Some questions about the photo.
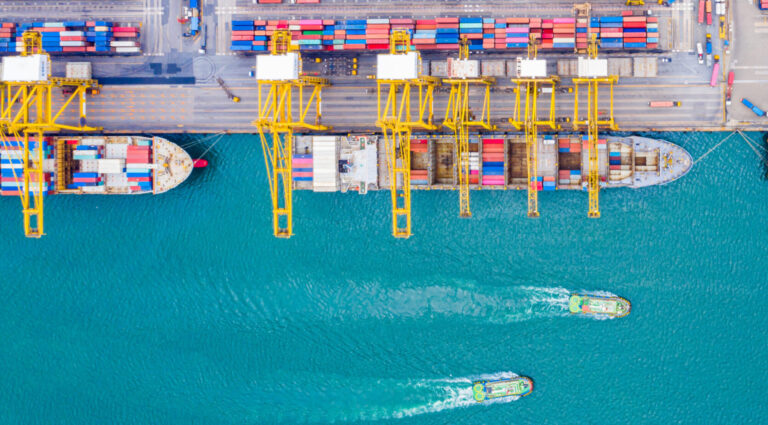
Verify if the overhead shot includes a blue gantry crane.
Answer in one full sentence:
No, no blue gantry crane can be seen from above.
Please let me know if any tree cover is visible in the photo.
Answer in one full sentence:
No, tree cover can't be seen anywhere here.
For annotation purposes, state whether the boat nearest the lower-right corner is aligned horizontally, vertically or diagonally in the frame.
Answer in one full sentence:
I'd say the boat nearest the lower-right corner is aligned horizontally in the picture.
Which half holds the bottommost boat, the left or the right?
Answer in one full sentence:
You can find the bottommost boat on the right side of the picture.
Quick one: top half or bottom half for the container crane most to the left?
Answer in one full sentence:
You can find the container crane most to the left in the top half.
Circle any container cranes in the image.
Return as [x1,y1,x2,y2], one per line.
[442,36,504,218]
[573,0,592,59]
[254,29,336,238]
[509,36,565,219]
[374,29,446,238]
[0,29,104,238]
[572,36,622,220]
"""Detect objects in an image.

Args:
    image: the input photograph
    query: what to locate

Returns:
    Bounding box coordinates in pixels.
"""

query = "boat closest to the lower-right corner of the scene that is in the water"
[568,292,632,316]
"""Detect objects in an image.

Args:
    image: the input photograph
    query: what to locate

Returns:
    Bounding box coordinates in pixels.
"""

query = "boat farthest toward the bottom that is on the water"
[471,375,535,403]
